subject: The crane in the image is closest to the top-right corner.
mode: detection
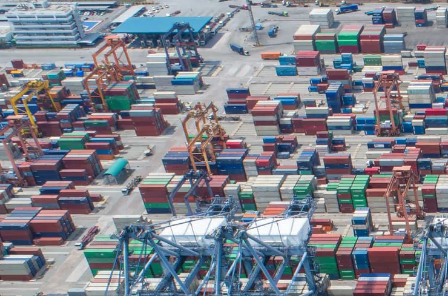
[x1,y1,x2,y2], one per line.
[370,76,405,135]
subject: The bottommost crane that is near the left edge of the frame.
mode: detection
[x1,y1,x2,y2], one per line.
[0,120,38,185]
